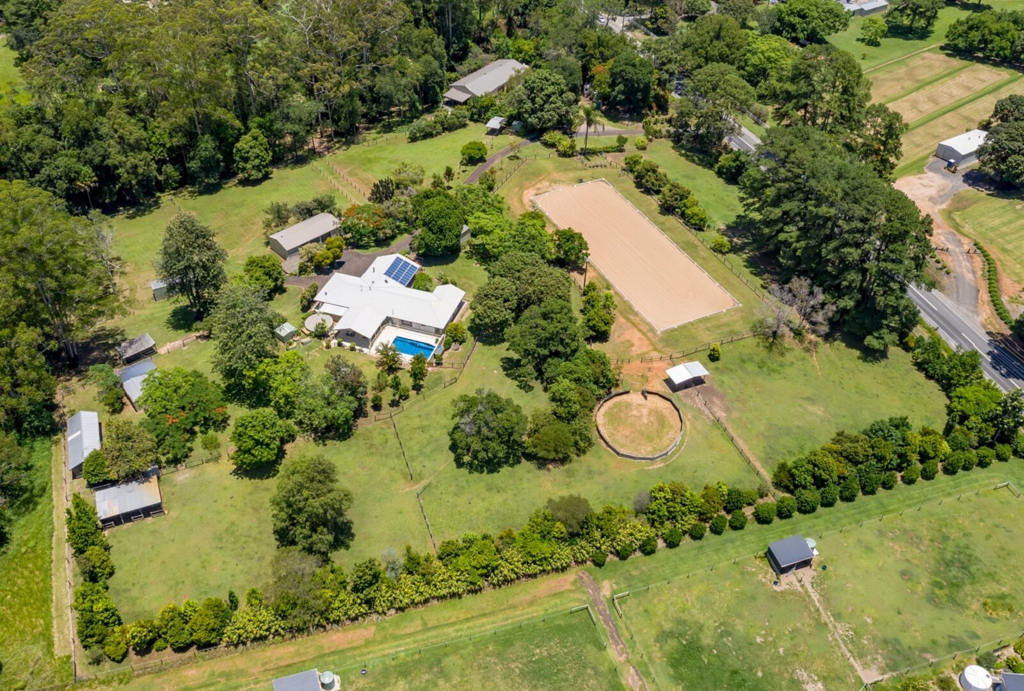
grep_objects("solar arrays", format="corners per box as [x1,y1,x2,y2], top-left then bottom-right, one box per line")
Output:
[385,257,418,284]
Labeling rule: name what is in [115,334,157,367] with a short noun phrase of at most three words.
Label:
shed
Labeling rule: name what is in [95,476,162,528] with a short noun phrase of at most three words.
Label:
building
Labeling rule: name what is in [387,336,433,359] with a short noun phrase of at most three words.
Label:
swimming pool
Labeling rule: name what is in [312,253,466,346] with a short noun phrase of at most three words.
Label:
house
